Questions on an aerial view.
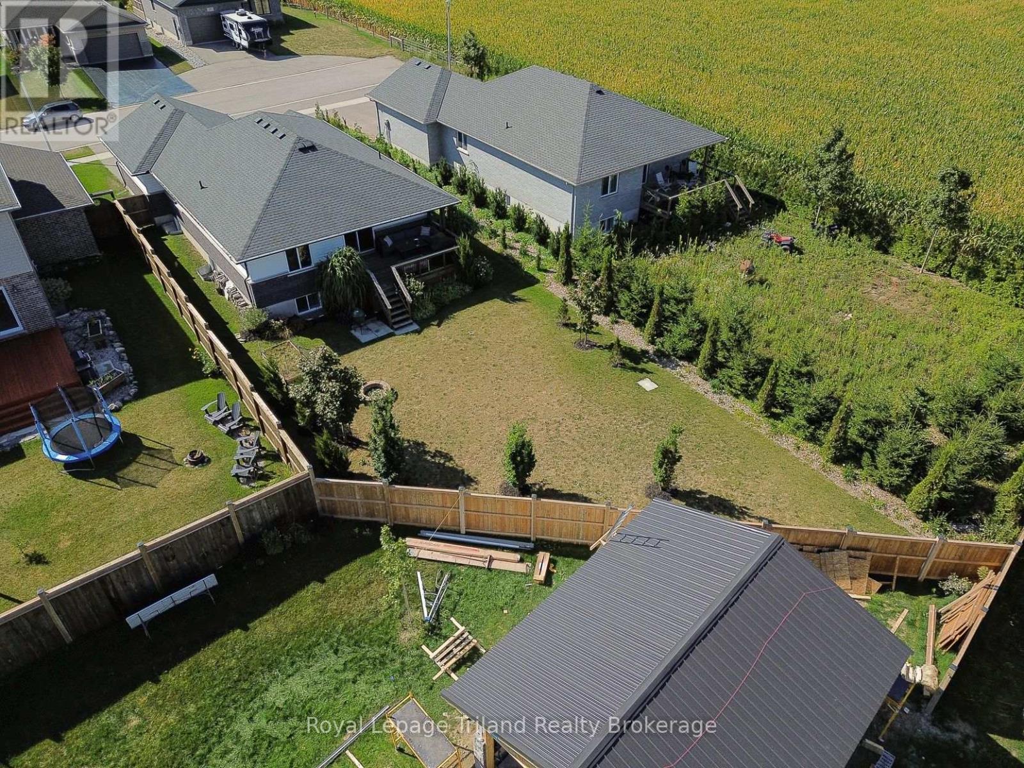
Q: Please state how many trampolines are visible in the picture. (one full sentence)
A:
Altogether the scene contains 1 trampoline.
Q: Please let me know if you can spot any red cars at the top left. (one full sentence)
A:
No, no red car can be made out at the top left.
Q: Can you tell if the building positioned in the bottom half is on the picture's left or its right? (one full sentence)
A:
The building positioned in the bottom half appears in the right half of the scene.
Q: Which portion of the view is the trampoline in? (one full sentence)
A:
The trampoline is located in the left region of the scene.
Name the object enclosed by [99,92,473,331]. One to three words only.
house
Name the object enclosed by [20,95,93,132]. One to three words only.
car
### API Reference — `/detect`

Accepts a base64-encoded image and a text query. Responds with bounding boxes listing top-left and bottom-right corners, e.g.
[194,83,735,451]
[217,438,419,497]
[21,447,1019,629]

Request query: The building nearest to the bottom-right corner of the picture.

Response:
[440,497,913,768]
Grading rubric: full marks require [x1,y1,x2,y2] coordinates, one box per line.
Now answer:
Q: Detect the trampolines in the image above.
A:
[17,371,125,475]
